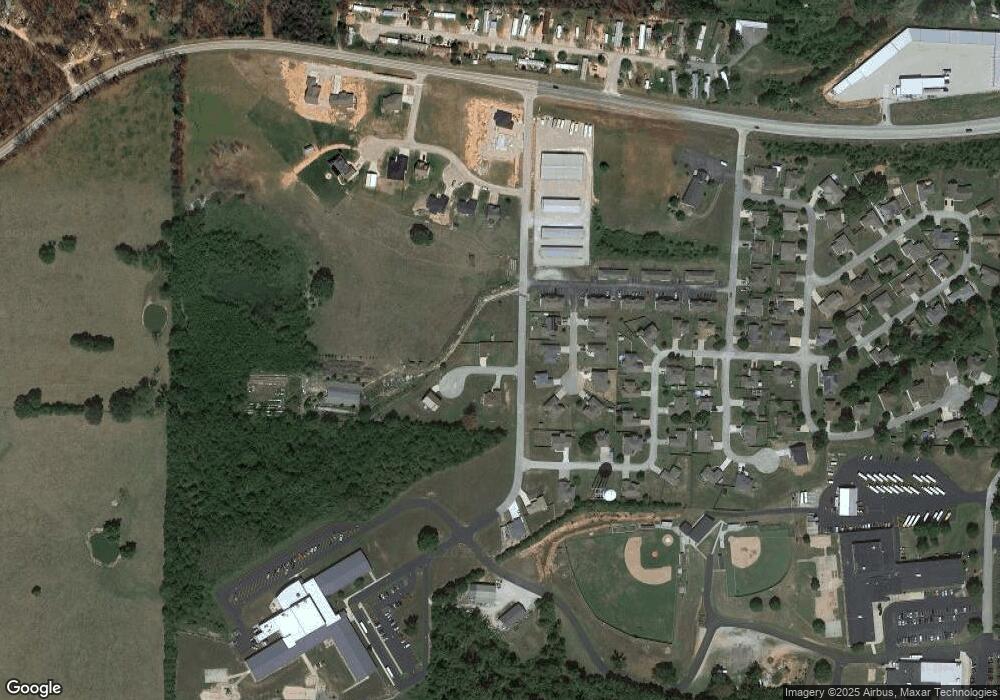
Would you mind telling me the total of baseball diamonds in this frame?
2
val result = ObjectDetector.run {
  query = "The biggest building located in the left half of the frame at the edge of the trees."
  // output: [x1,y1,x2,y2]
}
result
[248,548,377,684]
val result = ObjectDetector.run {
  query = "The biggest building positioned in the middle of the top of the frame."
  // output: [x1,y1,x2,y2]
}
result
[540,152,585,181]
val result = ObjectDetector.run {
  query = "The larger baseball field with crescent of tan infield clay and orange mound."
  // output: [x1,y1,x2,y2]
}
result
[565,530,680,642]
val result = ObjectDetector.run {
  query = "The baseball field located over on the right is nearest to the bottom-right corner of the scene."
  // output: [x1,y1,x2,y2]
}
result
[727,528,794,597]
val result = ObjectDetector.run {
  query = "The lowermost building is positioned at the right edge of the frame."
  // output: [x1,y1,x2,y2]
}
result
[885,659,962,700]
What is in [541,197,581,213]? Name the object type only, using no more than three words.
building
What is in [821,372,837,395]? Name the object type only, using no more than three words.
house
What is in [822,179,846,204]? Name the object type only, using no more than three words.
house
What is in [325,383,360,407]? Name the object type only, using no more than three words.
building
